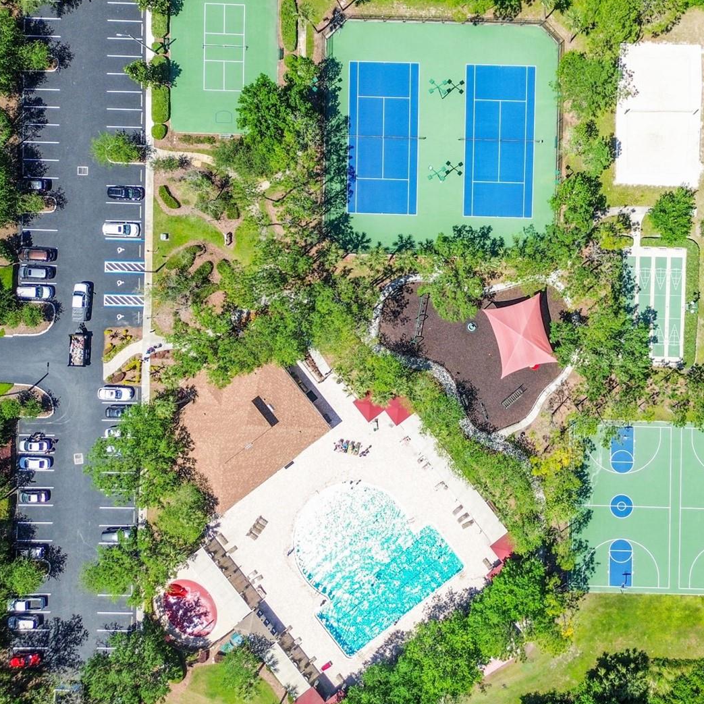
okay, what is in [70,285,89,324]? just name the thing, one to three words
vehicle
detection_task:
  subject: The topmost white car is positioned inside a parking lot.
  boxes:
[100,221,137,237]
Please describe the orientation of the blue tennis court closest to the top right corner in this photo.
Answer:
up and down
